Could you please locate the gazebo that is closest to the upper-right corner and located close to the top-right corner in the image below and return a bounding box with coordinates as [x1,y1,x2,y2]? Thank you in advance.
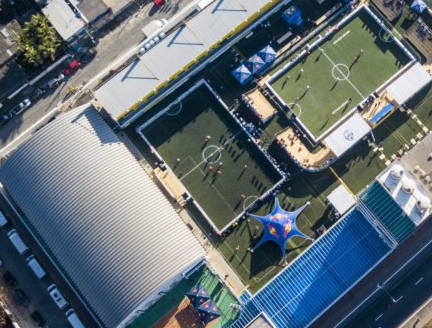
[410,0,427,16]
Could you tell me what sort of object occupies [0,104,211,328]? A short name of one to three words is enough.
hangar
